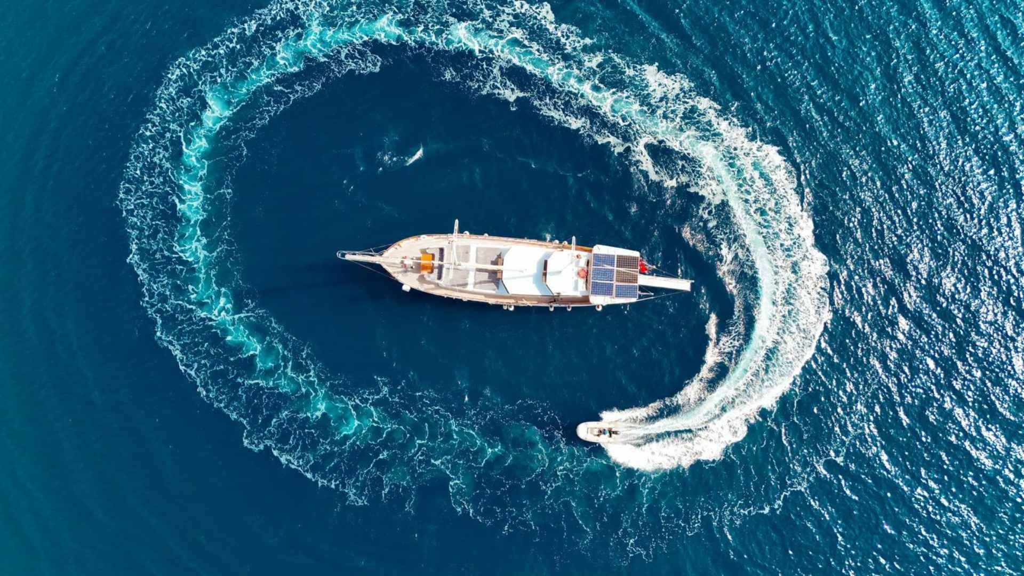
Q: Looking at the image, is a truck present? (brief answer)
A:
No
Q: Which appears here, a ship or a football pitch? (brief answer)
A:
ship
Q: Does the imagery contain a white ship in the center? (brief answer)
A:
Yes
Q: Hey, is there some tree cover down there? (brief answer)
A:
No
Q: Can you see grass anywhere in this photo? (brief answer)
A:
No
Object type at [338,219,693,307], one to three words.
ship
